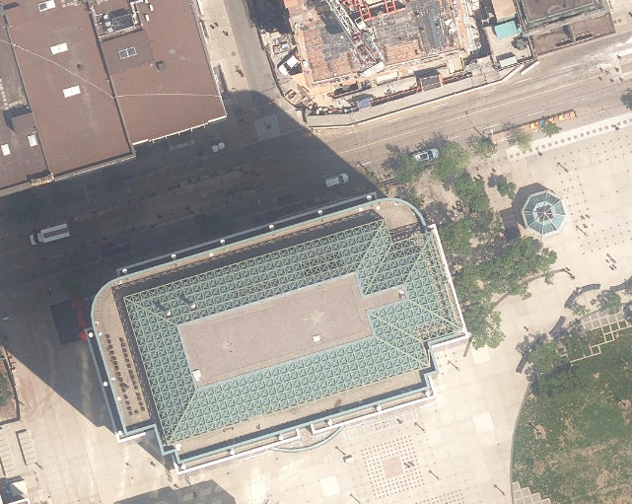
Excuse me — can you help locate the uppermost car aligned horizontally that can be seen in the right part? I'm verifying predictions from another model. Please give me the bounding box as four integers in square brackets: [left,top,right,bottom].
[414,149,439,162]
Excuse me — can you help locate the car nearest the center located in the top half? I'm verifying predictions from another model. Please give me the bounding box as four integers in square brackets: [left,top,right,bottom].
[325,173,350,187]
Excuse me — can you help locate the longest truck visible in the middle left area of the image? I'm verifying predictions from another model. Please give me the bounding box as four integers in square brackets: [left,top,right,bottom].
[30,222,69,244]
